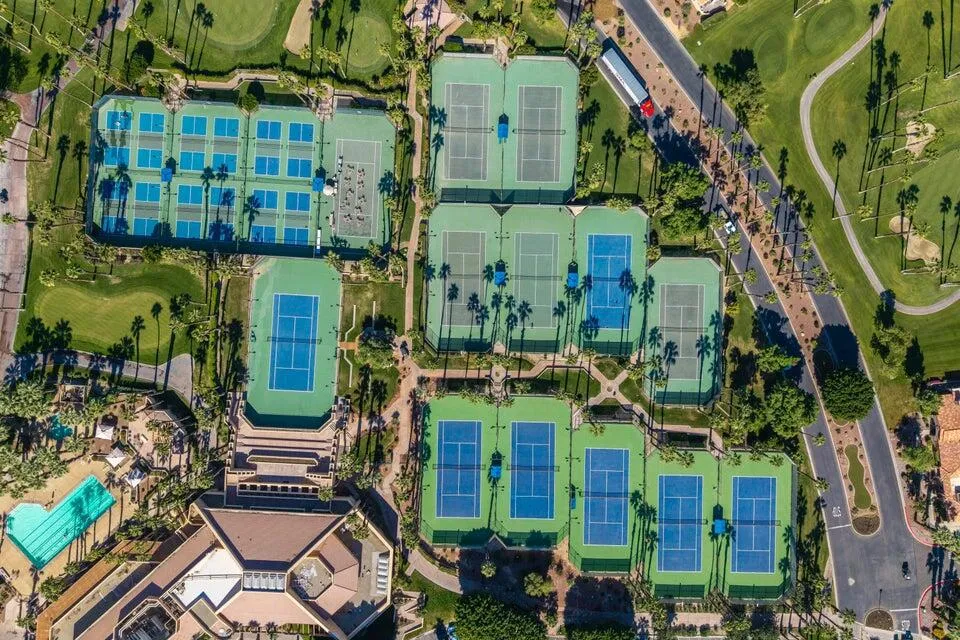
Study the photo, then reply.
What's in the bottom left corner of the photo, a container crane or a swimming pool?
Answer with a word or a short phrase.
swimming pool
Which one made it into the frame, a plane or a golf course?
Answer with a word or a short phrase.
golf course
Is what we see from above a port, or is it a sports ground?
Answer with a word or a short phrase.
sports ground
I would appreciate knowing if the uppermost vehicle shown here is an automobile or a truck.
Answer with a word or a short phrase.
truck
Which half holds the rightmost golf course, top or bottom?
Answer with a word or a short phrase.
top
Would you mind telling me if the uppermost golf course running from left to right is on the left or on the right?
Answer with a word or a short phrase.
left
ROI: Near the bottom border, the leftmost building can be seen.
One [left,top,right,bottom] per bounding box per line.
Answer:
[37,490,397,640]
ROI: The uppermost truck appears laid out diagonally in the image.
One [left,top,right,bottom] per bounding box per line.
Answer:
[602,49,658,125]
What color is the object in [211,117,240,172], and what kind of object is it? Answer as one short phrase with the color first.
blue sports court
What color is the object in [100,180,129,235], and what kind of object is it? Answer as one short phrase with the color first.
blue sports court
